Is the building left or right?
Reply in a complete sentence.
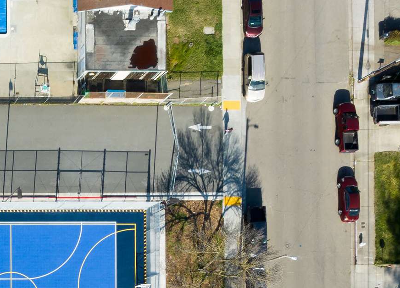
It is on the left.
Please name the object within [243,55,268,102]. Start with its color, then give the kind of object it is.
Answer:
white car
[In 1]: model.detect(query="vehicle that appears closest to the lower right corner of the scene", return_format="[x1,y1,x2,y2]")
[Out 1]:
[336,177,361,223]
